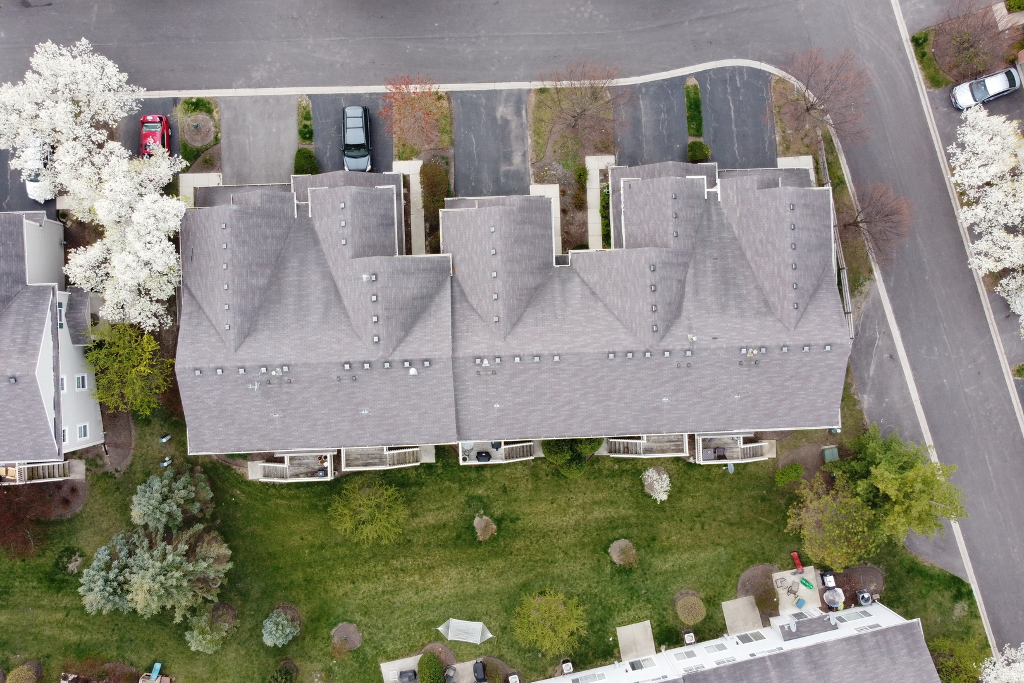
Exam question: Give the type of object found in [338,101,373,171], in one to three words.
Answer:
car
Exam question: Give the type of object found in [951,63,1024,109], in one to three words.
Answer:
car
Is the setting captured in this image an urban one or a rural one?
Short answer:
urban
